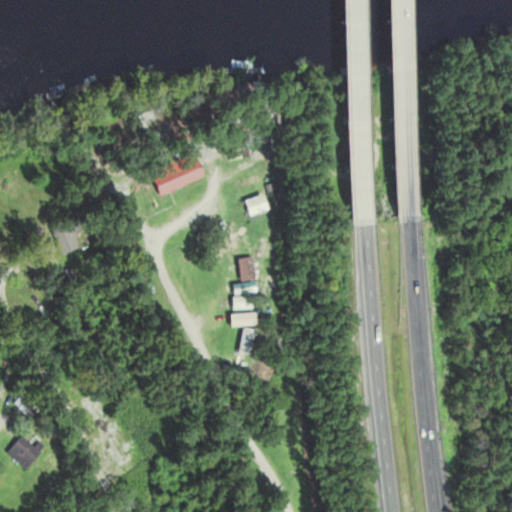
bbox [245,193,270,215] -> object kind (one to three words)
building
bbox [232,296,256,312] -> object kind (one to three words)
house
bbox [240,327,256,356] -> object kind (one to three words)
house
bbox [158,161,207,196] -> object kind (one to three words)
barn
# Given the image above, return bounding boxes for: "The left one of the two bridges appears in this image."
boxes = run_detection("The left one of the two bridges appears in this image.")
[344,0,377,226]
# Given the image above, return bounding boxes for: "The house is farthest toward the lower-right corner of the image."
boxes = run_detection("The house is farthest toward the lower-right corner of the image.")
[250,360,276,382]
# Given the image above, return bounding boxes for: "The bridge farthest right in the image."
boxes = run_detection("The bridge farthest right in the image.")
[389,0,424,223]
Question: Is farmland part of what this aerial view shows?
No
